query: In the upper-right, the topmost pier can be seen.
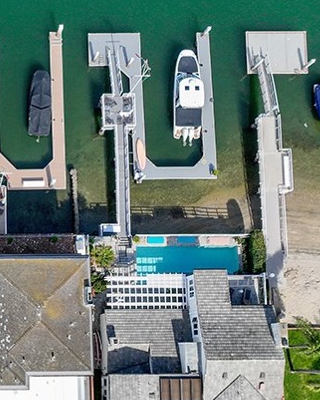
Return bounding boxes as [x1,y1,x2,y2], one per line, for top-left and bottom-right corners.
[245,31,308,75]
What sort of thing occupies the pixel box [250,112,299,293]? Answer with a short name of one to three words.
pier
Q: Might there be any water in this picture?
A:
Yes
